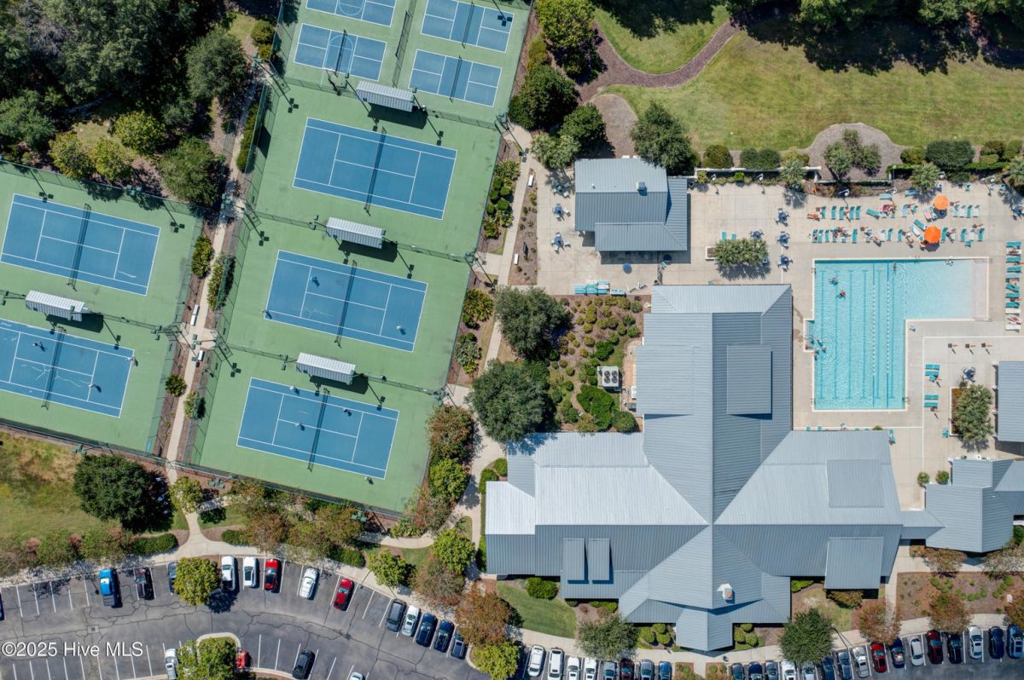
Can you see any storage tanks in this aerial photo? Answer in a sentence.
No, the picture doesn't show any storage tank.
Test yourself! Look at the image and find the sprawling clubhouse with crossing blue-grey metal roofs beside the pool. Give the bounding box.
[486,285,903,652]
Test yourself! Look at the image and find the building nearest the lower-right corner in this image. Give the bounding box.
[913,457,1024,553]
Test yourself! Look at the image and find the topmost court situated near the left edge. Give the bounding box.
[0,161,210,332]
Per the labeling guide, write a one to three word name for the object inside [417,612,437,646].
car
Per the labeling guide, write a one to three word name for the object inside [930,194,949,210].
umbrella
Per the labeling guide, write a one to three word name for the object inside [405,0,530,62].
sports court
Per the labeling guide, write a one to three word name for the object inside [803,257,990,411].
swimming pool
